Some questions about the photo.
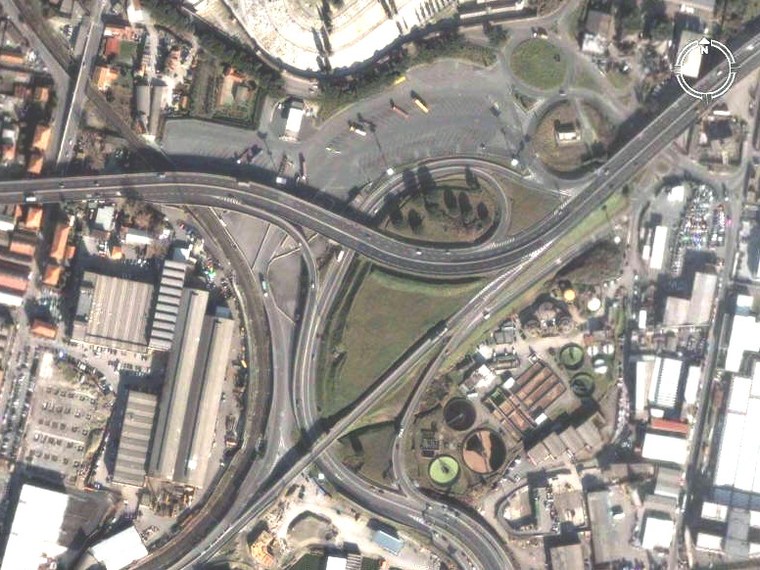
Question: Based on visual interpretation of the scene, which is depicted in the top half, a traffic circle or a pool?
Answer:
traffic circle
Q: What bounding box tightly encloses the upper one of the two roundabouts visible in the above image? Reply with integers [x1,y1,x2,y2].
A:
[501,25,577,101]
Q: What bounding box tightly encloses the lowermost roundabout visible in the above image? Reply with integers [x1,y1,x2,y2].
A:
[526,89,618,178]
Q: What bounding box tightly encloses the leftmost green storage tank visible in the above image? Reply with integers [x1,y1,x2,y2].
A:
[430,454,459,484]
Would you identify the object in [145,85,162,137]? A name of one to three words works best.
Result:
shed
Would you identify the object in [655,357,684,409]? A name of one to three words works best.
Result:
building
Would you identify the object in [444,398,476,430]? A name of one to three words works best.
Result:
storage tank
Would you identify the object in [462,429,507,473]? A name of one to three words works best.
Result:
storage tank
